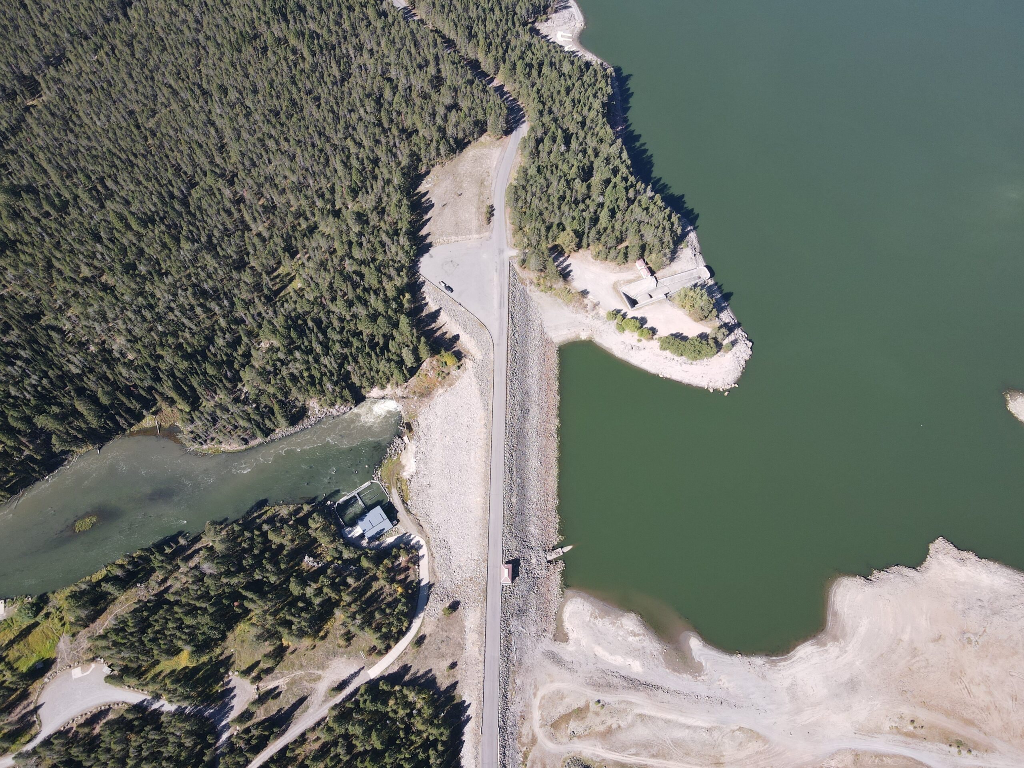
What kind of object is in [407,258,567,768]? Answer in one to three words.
dam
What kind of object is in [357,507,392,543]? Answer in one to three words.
building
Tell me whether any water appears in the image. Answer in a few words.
Yes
